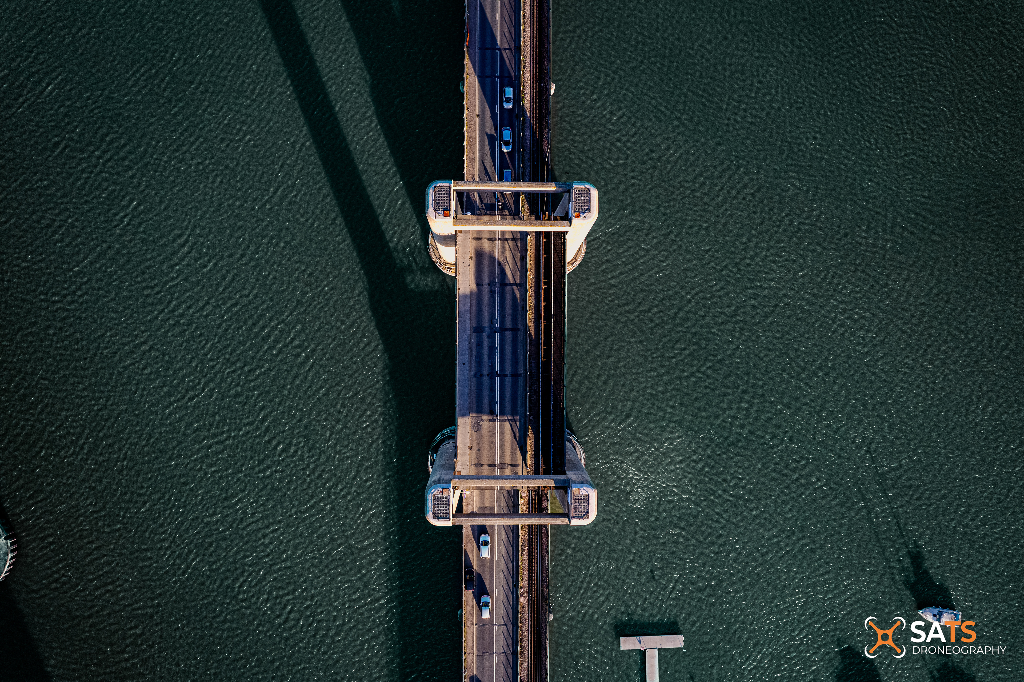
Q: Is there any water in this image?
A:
Yes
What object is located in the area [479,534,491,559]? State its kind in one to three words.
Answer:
vehicle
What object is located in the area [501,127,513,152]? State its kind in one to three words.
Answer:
vehicle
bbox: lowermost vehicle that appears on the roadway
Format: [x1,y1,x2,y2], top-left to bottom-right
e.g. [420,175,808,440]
[480,595,492,619]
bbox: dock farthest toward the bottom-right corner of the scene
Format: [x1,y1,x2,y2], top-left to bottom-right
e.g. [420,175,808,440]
[620,635,685,682]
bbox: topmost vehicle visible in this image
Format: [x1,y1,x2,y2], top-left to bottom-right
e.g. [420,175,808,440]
[502,86,514,110]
